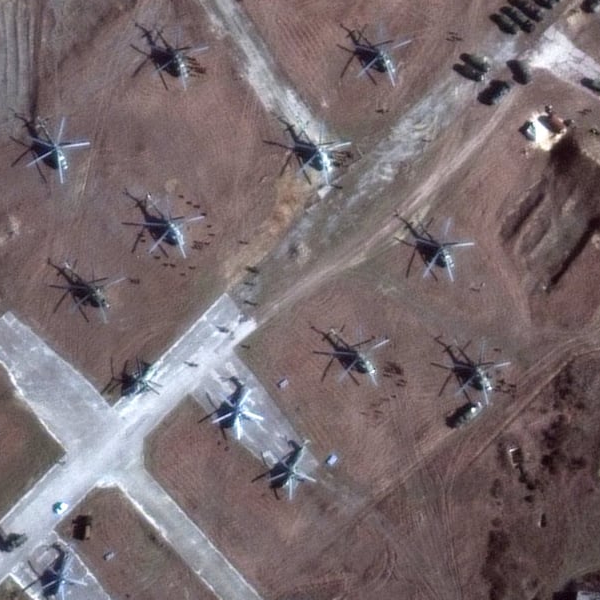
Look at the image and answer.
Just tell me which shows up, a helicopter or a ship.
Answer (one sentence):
It is a helicopter that can be seen here.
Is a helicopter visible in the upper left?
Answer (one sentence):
Yes, a helicopter appears in the upper left.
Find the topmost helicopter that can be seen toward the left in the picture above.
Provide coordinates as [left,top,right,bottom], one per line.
[145,17,210,87]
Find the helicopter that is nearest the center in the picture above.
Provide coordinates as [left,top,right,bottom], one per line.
[326,323,392,386]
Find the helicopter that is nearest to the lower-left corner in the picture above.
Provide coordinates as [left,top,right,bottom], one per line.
[36,541,90,600]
